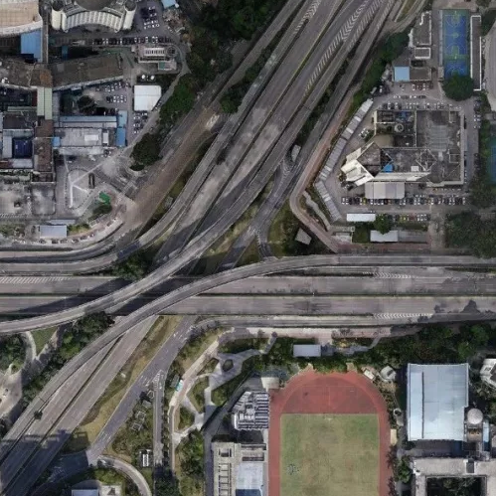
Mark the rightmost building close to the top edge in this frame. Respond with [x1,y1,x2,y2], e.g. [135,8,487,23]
[469,15,481,91]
